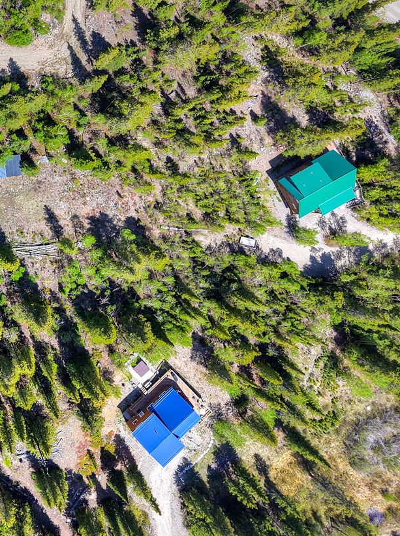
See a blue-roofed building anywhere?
Yes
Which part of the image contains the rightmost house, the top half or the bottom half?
top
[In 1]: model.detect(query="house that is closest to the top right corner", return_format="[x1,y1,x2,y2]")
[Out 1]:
[266,146,366,218]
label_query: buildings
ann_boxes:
[0,154,21,179]
[266,146,366,218]
[123,368,213,468]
